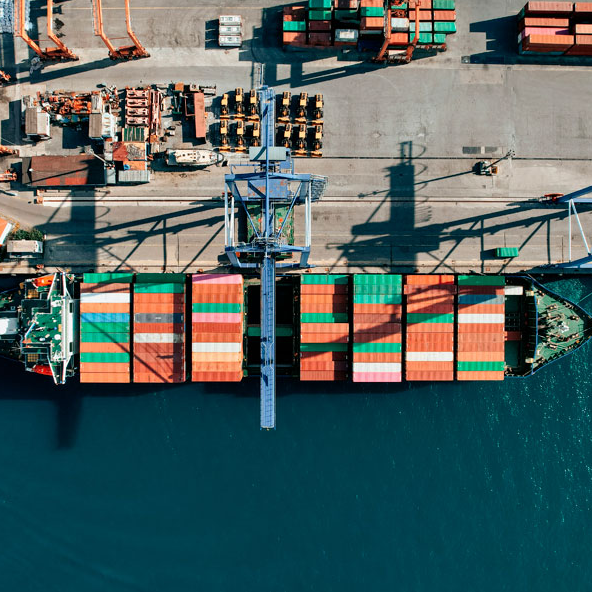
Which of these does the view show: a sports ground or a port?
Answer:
port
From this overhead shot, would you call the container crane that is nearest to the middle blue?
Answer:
Yes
